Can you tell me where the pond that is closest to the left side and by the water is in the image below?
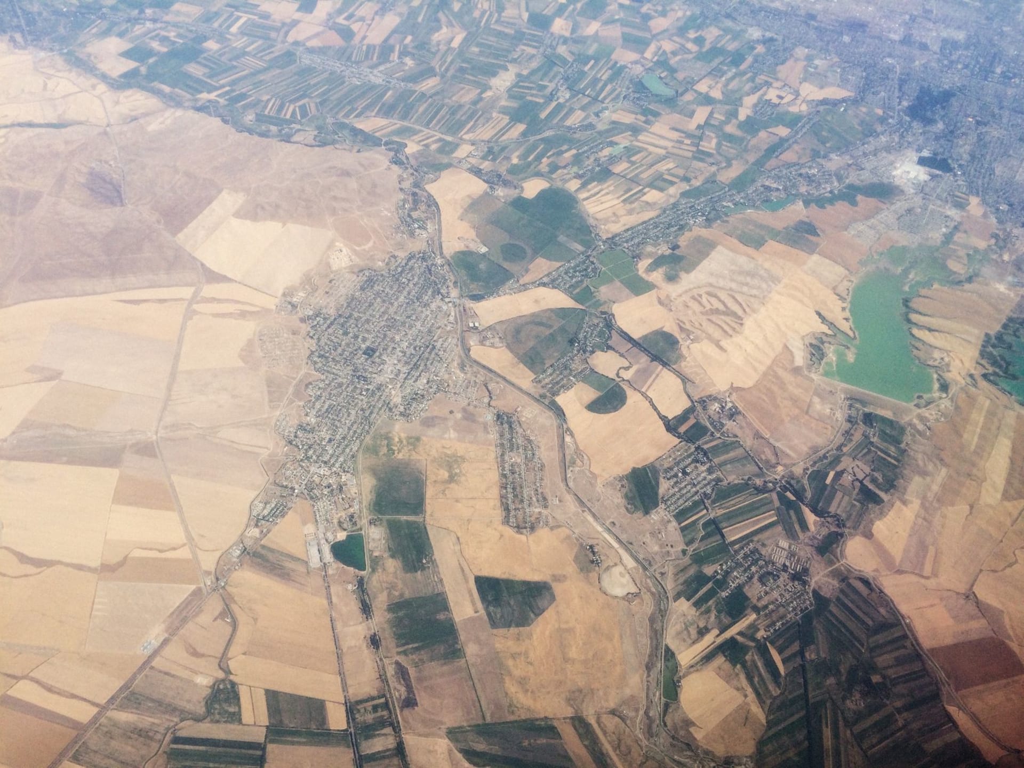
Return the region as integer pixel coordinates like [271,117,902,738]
[822,268,936,403]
